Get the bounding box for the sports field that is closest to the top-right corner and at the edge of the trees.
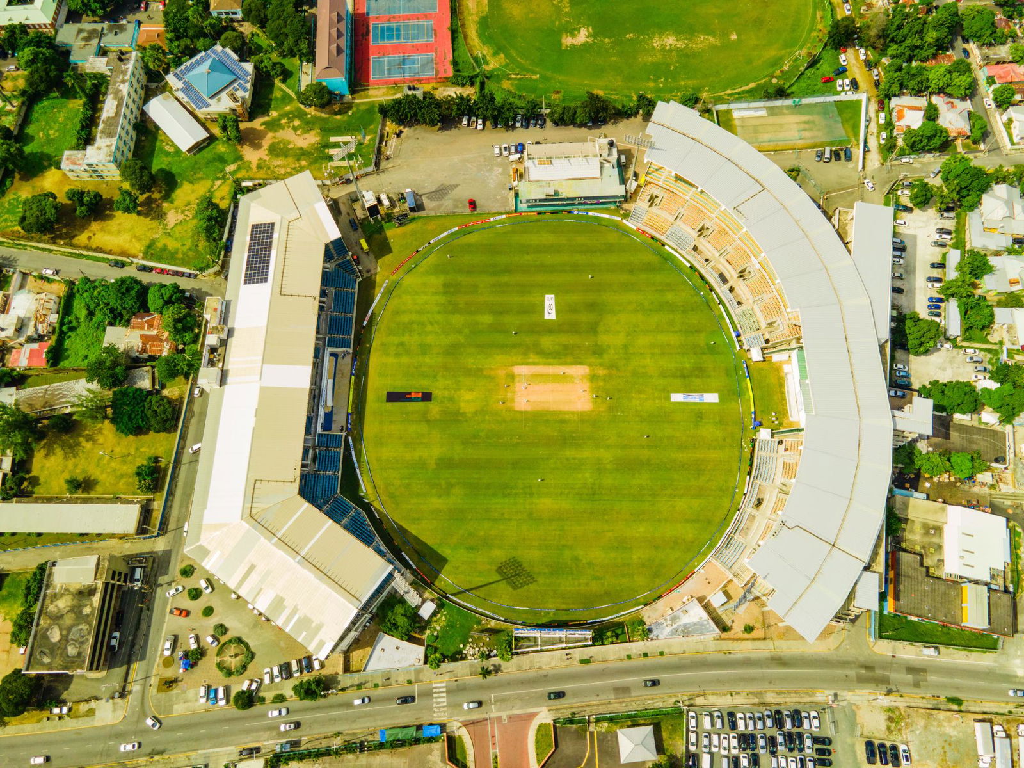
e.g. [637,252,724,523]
[474,0,830,95]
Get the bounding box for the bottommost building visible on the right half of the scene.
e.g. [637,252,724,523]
[618,727,657,763]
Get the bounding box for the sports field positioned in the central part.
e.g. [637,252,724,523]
[359,219,744,610]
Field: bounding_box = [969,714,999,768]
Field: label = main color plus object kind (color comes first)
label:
white truck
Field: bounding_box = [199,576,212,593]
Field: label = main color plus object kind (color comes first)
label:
white vehicle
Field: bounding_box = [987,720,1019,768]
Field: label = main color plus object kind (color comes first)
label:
white truck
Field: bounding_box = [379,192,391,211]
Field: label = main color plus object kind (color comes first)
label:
white vehicle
